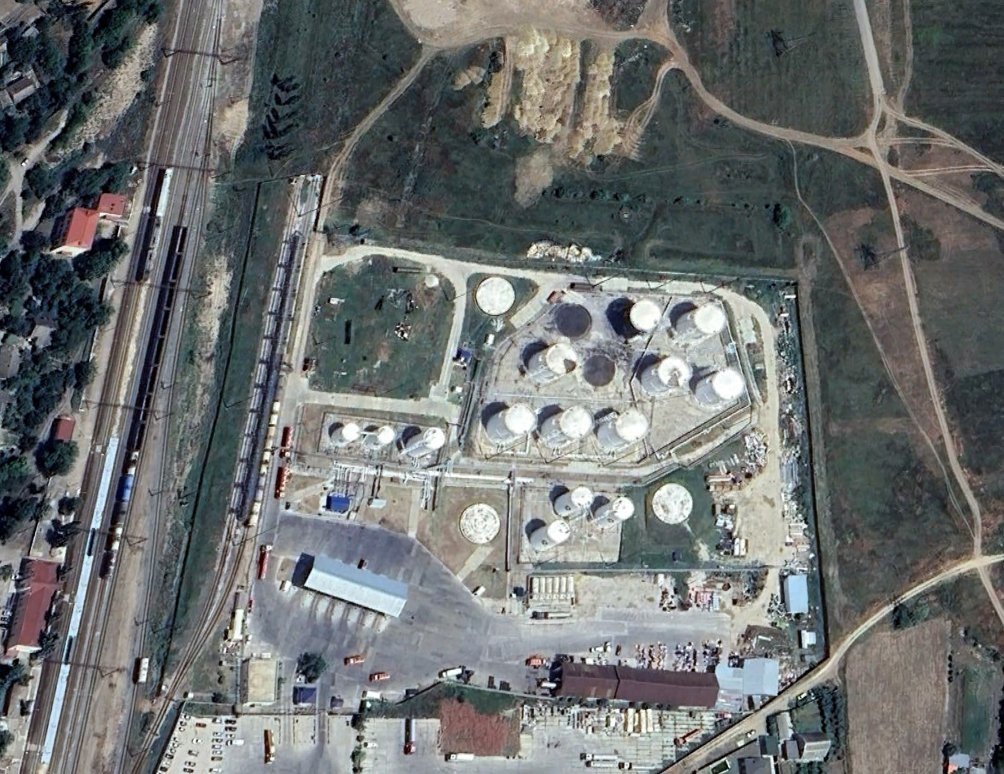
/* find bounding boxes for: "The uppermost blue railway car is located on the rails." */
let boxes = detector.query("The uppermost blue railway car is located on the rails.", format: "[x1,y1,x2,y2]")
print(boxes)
[120,475,134,503]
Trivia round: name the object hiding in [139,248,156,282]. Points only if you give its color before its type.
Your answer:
gray rail car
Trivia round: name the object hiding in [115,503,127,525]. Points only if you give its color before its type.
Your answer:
gray rail car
